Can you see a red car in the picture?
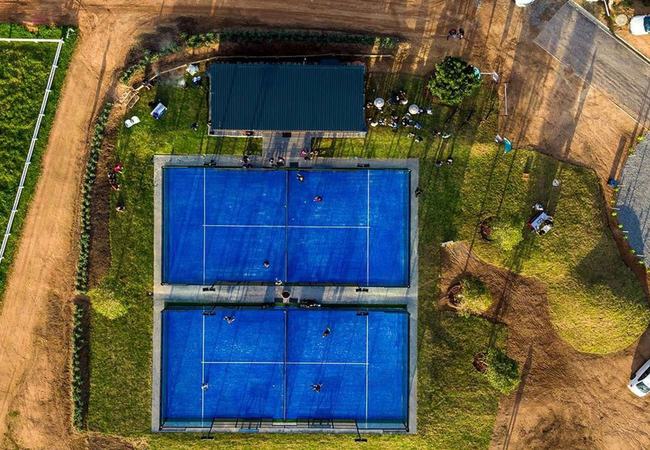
No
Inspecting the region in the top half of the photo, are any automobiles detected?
Yes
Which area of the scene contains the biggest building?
top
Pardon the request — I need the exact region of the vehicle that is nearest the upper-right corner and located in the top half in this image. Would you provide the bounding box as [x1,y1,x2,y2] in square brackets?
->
[628,11,650,37]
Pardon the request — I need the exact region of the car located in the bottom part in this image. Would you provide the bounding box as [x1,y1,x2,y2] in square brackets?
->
[627,348,650,395]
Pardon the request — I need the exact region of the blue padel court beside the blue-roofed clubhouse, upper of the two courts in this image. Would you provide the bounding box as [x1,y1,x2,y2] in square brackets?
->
[161,161,411,291]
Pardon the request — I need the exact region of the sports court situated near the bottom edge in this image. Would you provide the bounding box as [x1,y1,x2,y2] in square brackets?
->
[159,303,410,440]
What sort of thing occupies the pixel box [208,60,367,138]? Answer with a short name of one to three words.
building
